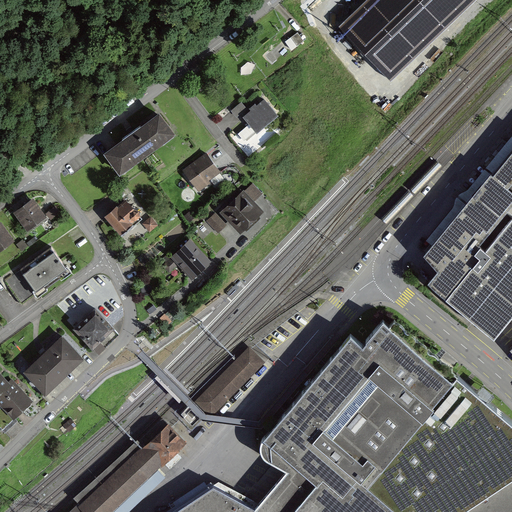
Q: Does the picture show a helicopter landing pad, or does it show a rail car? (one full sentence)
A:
The one in the frame is a rail car.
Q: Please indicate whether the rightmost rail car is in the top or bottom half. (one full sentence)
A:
Seen from above, the rightmost rail car lies in the top half of the view.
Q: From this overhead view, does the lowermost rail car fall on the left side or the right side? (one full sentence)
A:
You can find the lowermost rail car on the right side of the picture.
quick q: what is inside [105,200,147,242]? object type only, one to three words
house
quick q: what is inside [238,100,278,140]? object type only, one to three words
house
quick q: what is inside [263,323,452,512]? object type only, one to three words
building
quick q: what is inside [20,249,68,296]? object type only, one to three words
building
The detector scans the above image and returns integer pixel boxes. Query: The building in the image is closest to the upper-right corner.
[338,0,477,81]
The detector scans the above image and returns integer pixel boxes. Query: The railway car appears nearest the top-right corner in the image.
[410,160,442,194]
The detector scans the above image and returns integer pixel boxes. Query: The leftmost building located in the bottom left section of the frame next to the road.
[0,374,32,419]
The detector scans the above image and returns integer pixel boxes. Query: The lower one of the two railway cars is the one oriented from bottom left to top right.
[381,190,414,224]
